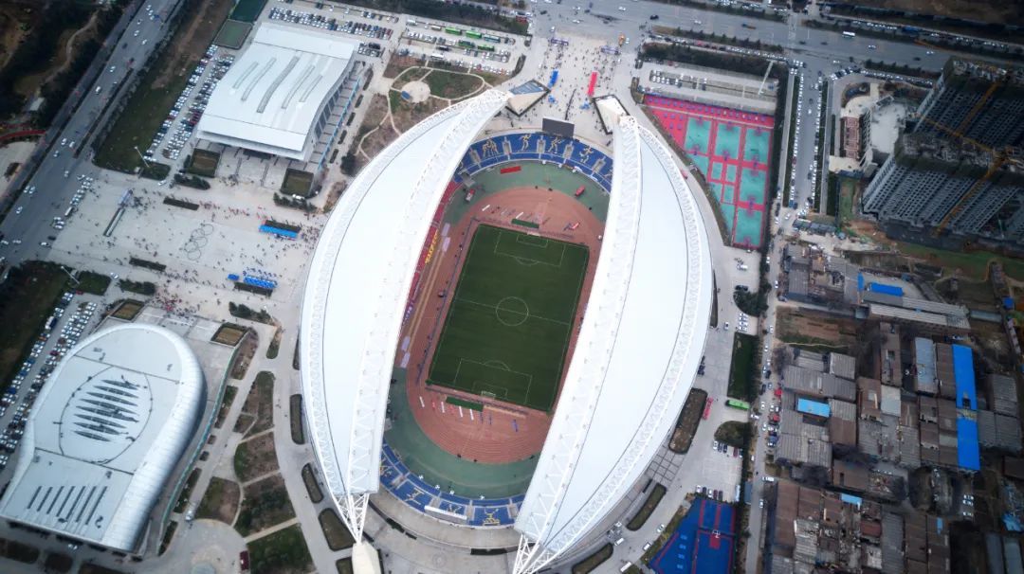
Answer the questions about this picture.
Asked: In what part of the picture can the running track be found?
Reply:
center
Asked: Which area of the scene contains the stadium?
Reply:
center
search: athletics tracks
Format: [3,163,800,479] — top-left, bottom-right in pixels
[385,160,610,506]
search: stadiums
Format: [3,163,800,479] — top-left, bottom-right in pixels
[299,78,713,574]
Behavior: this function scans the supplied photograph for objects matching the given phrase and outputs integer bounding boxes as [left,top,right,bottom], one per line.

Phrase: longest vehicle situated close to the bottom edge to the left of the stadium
[235,546,251,573]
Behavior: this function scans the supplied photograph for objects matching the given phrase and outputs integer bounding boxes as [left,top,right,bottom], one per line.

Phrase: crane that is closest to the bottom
[917,116,1024,233]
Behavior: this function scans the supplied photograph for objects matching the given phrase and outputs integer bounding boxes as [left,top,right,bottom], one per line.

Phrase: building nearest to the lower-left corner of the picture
[0,305,250,562]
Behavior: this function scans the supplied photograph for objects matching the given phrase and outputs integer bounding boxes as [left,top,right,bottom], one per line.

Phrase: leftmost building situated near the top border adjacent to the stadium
[197,23,364,173]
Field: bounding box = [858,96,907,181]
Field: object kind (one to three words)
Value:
building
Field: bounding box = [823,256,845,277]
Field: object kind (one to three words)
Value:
house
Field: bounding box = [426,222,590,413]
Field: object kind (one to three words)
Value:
sports field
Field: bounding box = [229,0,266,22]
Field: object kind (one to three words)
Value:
tennis court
